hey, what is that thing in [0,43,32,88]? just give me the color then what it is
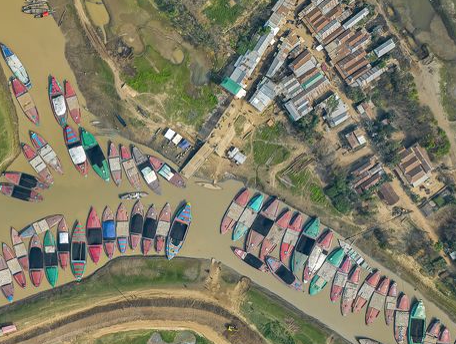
white boat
